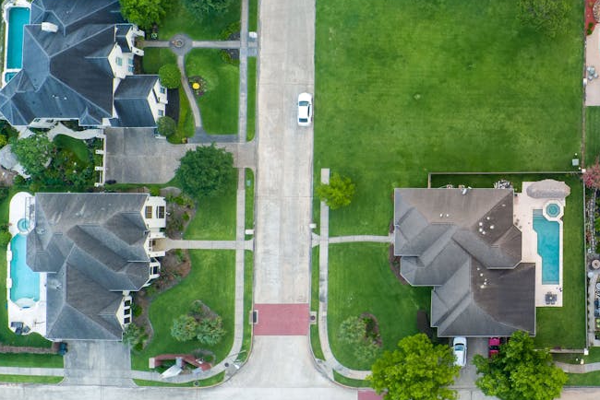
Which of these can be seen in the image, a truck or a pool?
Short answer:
pool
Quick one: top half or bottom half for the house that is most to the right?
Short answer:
bottom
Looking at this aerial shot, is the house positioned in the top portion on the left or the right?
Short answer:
left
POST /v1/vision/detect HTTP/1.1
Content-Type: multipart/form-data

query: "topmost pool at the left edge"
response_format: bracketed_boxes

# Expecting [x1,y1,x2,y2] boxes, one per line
[5,7,32,69]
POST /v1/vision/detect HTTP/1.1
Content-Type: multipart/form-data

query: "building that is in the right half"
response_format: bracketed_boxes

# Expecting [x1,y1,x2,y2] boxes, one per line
[393,188,537,338]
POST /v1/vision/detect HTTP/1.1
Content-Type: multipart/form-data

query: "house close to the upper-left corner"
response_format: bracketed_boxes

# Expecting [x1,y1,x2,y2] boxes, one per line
[0,0,171,130]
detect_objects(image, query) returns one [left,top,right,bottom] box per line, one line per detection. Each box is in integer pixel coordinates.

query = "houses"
[393,188,537,338]
[27,193,174,341]
[0,0,171,130]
